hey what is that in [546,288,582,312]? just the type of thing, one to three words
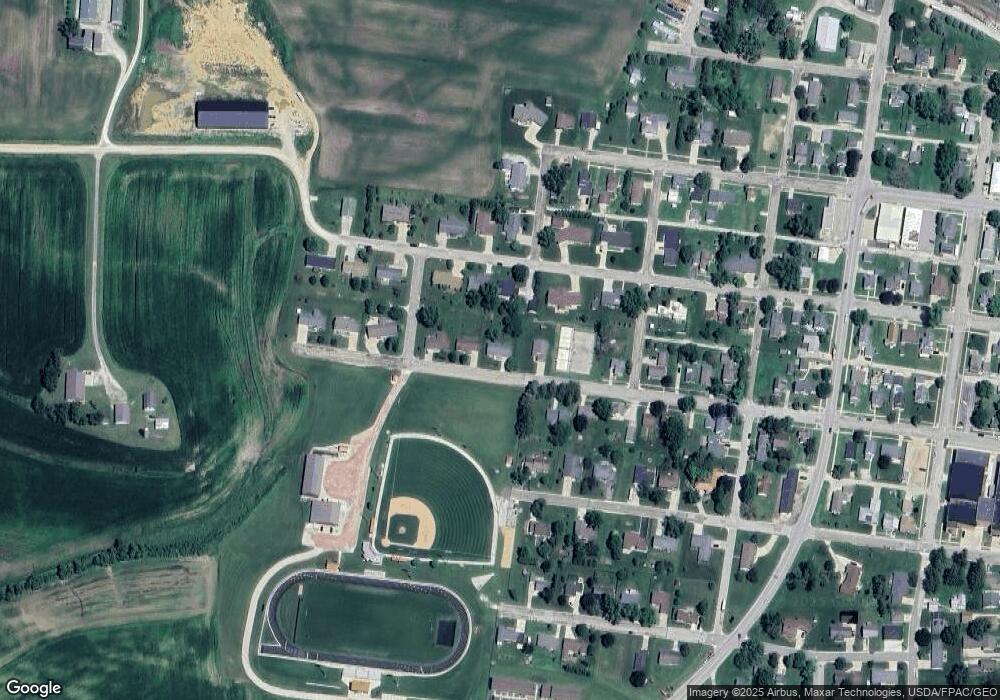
house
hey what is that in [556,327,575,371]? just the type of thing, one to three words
tennis court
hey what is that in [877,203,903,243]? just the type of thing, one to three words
building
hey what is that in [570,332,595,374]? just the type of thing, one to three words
tennis court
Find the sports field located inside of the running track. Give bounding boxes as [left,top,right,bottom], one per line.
[275,577,462,667]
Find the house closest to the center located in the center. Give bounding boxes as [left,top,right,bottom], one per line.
[485,343,513,359]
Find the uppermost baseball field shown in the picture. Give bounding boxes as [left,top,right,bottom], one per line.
[373,432,497,563]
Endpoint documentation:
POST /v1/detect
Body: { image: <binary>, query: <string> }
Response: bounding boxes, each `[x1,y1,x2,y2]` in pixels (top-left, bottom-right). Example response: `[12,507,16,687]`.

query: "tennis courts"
[556,327,575,371]
[570,332,595,374]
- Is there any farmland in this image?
Yes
